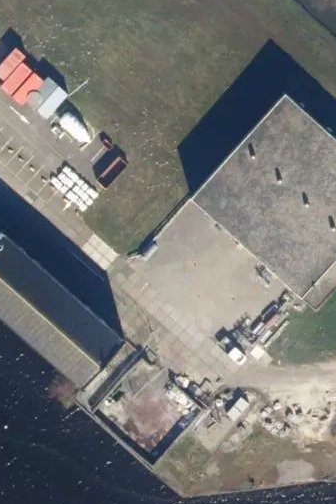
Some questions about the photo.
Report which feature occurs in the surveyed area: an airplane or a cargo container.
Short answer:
cargo container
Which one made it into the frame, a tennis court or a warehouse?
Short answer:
warehouse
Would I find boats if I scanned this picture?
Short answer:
Yes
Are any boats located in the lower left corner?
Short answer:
No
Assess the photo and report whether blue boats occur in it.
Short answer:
No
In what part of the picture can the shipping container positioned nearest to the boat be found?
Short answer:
top left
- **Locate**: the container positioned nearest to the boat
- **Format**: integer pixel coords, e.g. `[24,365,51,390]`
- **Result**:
[37,84,69,119]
